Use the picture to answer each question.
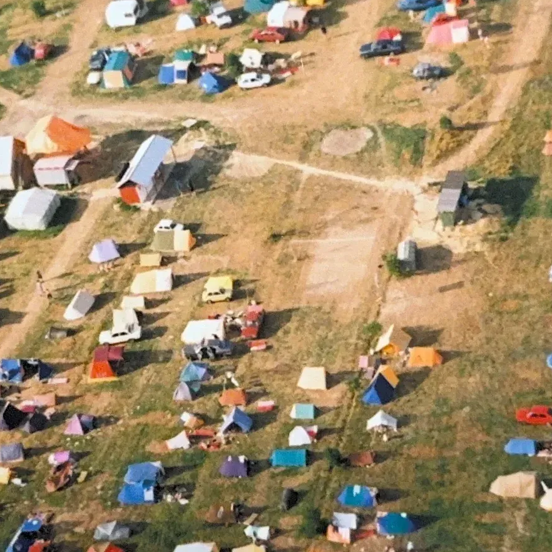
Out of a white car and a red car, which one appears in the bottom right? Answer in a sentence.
There is a red car in the bottom right.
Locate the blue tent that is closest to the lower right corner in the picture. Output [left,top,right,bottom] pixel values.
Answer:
[503,437,536,458]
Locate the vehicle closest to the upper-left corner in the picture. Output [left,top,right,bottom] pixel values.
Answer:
[36,33,55,61]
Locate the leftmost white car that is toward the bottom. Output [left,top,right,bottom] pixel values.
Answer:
[98,322,142,345]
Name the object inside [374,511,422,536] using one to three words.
tent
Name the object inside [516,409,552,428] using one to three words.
car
